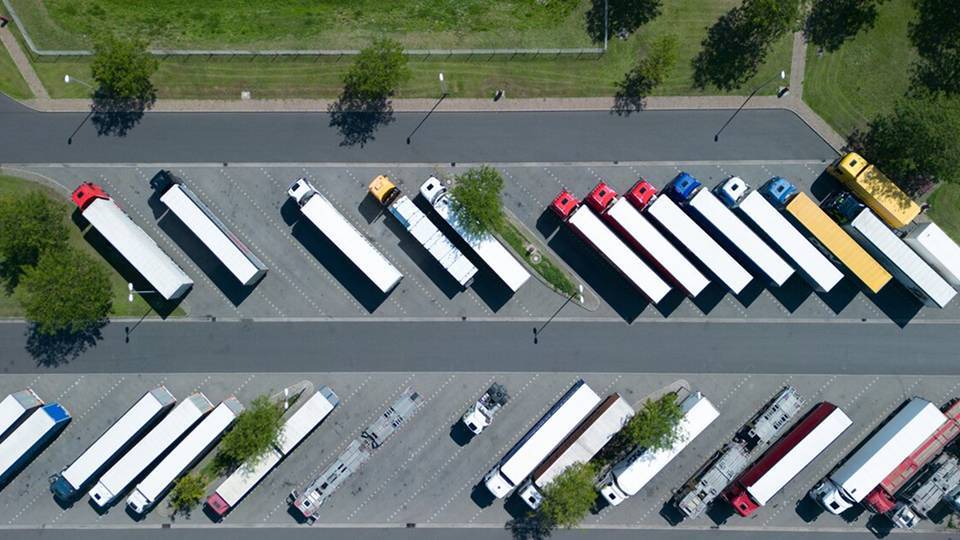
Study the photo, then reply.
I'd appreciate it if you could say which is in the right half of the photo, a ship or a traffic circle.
ship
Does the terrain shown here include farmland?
No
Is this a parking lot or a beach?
parking lot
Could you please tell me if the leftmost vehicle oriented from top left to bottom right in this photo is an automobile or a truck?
truck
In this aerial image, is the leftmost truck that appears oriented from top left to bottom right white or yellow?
white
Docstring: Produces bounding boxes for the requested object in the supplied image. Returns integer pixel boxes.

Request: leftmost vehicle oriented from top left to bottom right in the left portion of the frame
[71,180,194,299]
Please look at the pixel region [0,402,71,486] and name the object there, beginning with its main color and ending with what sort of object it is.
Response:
white truck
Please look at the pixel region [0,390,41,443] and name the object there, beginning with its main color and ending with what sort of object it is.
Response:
white truck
